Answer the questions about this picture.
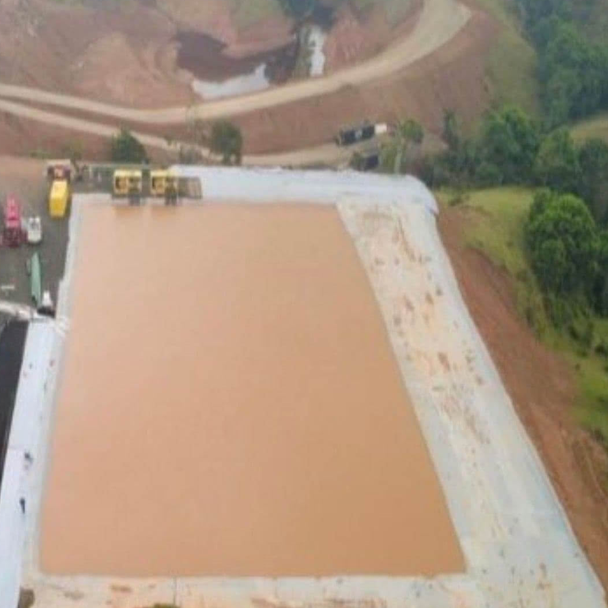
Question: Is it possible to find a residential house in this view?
No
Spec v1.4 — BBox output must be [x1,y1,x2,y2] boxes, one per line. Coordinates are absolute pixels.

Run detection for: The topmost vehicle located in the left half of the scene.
[46,159,70,180]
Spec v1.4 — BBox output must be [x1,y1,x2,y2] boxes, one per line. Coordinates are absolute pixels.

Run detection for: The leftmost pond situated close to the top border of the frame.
[176,30,302,99]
